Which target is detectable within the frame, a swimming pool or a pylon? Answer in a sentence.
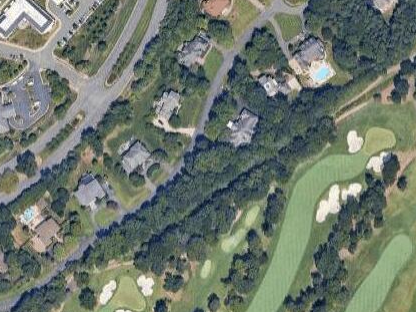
Visible in the photo is a swimming pool.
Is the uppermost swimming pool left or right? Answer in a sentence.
The uppermost swimming pool is on the right side of the image.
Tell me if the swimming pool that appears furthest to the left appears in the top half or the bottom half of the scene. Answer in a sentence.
It is in the bottom half that the swimming pool that appears furthest to the left appears.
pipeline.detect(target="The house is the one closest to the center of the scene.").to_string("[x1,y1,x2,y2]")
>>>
[228,110,262,145]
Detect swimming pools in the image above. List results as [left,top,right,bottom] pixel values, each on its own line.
[20,206,45,231]
[304,60,336,88]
